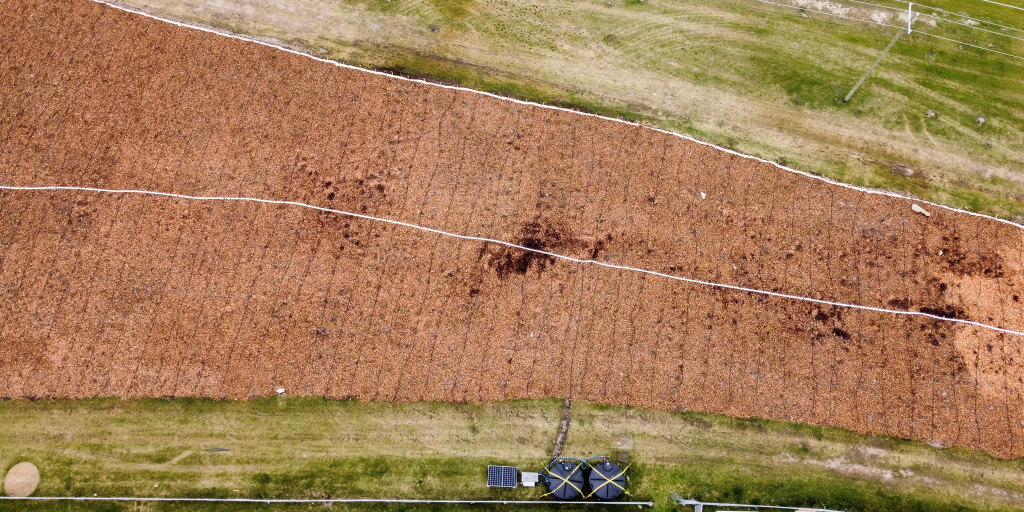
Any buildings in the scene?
No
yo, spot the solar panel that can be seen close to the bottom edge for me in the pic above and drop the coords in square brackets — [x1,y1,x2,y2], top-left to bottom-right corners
[487,465,517,489]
